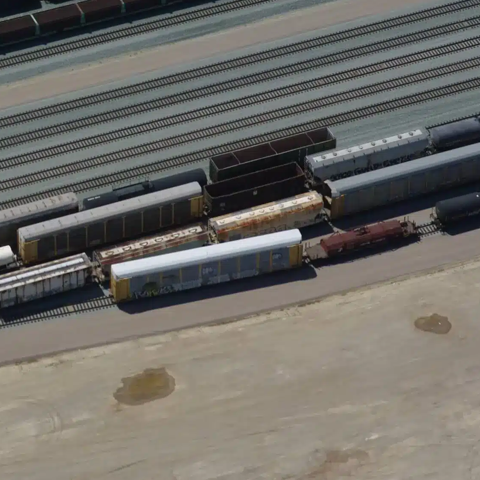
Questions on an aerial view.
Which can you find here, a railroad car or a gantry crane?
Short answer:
railroad car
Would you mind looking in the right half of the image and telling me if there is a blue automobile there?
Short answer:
No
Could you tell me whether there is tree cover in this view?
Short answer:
No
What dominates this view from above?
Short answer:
paved ground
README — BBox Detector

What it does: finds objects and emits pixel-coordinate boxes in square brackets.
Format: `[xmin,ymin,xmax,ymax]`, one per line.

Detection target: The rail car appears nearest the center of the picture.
[82,170,214,212]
